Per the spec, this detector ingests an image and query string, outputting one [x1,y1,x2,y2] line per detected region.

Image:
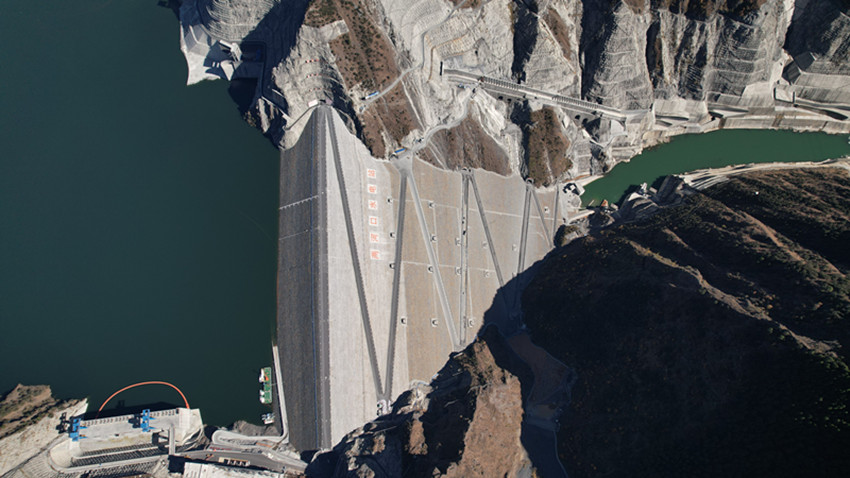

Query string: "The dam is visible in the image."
[276,104,571,447]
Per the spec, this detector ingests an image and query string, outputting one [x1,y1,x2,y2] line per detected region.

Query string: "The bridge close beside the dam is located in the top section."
[444,69,626,126]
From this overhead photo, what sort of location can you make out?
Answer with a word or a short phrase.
port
